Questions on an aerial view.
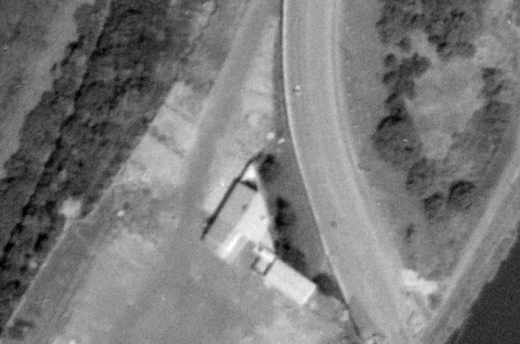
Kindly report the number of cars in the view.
0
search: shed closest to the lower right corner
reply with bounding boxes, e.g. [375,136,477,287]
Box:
[264,258,315,304]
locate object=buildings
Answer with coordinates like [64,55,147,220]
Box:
[264,258,315,304]
[203,182,268,263]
